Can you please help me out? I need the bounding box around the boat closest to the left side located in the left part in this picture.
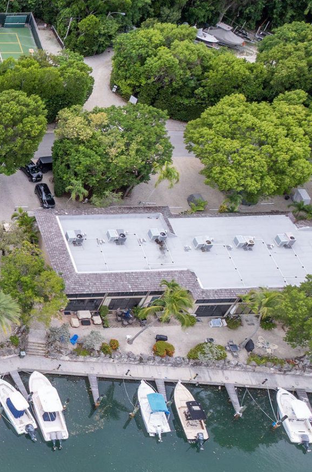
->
[0,378,36,443]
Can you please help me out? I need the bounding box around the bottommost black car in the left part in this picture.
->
[33,180,56,208]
